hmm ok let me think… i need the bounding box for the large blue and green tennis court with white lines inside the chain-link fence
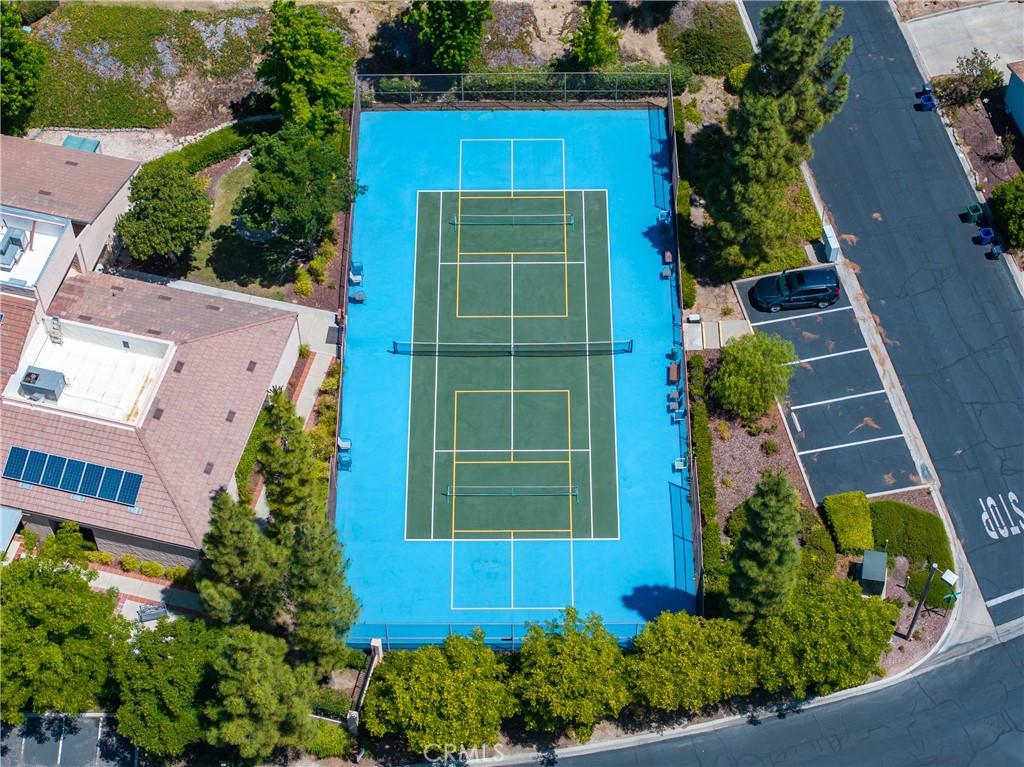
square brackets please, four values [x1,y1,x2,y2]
[329,109,697,651]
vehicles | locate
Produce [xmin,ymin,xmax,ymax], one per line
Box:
[750,265,843,312]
